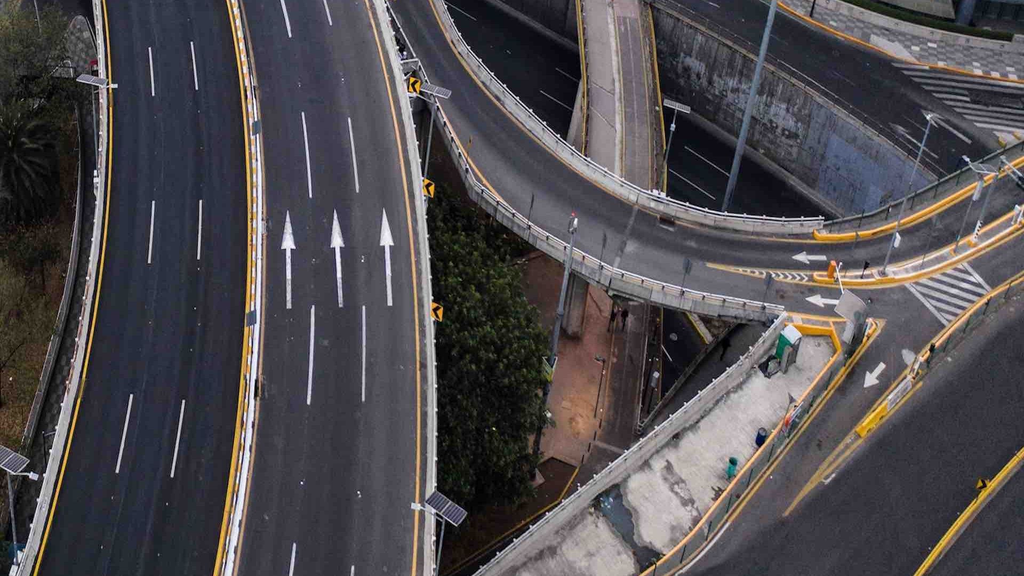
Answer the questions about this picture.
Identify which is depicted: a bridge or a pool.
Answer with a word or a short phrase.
bridge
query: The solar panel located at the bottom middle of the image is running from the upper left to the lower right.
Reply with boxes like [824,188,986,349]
[424,490,468,526]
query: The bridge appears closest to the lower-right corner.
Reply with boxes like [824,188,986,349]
[557,254,631,338]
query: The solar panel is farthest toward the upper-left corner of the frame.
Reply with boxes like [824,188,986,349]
[76,73,109,87]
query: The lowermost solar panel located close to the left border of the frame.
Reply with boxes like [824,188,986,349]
[0,445,29,474]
